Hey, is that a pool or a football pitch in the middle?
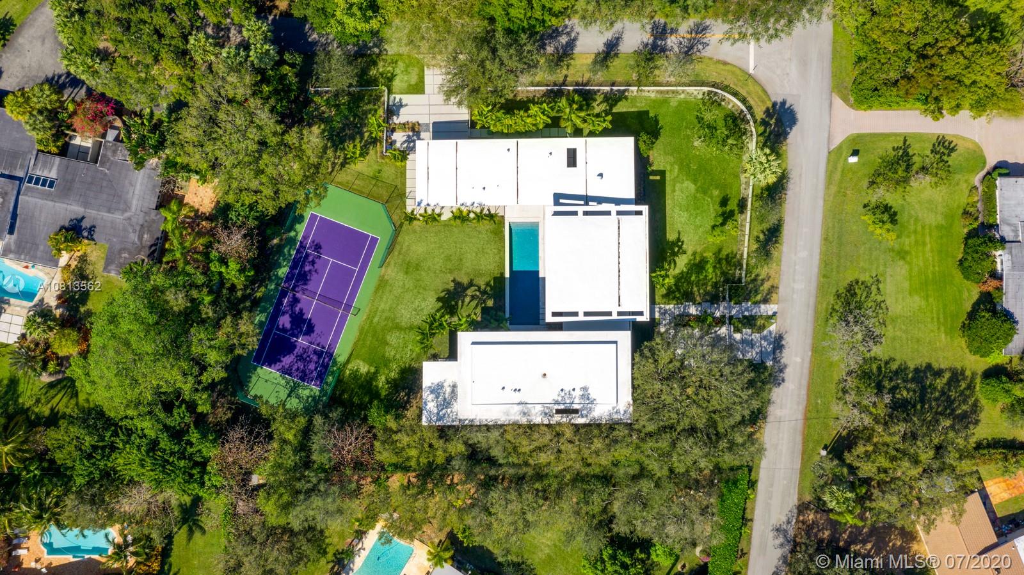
pool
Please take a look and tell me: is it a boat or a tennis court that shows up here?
tennis court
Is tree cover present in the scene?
Yes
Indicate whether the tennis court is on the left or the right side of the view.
left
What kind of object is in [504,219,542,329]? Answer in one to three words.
swimming pool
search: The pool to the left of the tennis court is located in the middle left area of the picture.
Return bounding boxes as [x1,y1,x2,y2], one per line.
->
[0,256,50,306]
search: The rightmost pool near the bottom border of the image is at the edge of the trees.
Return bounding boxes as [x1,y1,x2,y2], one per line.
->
[351,526,416,575]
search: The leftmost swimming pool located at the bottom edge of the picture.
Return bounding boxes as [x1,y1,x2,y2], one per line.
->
[39,519,117,561]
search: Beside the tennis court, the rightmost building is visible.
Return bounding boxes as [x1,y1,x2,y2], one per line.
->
[416,139,649,425]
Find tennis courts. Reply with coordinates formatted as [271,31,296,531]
[237,184,394,415]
